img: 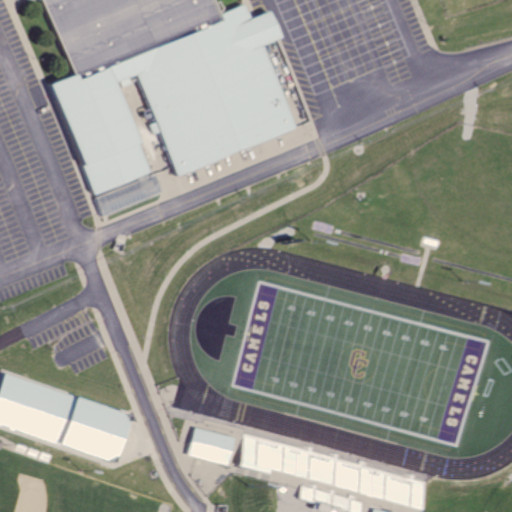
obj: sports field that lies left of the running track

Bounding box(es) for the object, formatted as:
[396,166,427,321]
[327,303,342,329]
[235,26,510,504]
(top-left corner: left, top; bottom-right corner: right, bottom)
[0,451,160,512]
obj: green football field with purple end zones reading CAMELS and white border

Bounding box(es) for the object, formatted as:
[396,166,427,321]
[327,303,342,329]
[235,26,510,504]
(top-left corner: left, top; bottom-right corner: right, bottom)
[191,270,512,456]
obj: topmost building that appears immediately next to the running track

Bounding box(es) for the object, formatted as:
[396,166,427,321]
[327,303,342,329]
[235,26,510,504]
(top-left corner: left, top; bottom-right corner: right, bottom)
[40,0,296,211]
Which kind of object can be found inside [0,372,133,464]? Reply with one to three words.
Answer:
building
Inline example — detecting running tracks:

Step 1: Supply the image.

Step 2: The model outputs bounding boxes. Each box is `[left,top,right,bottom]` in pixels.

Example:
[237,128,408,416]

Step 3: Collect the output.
[168,248,512,478]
